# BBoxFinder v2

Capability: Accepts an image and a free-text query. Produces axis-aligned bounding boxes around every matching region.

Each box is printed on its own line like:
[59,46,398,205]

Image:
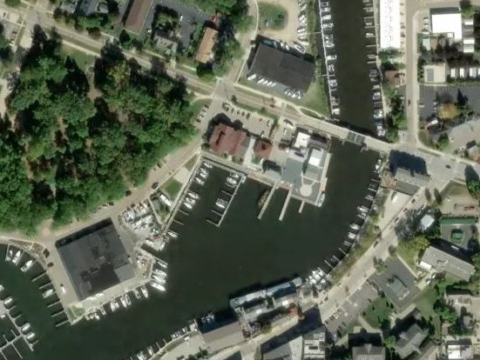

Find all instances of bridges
[327,122,382,152]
